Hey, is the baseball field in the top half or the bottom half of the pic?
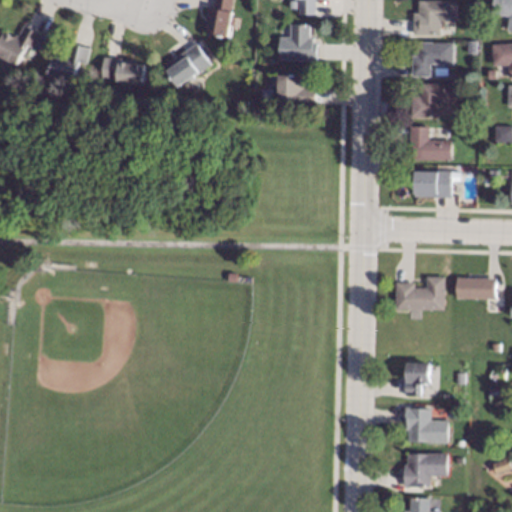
bottom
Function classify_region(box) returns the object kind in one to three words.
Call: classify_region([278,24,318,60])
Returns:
house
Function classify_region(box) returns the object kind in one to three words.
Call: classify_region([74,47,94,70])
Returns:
building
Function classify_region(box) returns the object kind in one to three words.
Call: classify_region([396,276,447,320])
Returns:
house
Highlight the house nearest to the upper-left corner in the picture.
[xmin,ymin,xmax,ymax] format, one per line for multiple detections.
[0,26,36,66]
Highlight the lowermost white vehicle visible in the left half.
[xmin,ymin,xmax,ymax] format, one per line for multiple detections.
[175,22,189,38]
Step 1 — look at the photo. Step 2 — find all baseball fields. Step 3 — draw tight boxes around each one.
[0,256,253,505]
